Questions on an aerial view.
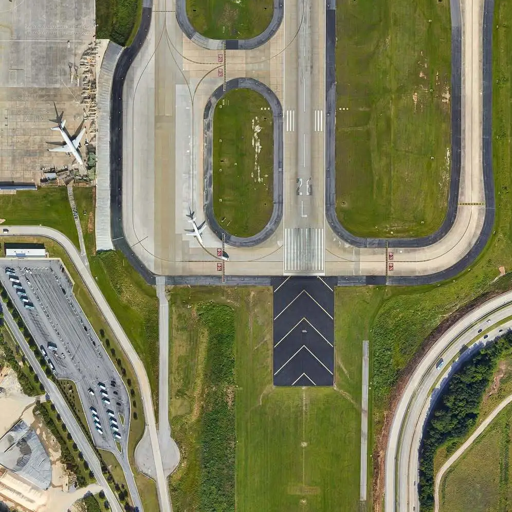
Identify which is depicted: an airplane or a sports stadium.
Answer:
airplane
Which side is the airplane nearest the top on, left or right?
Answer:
left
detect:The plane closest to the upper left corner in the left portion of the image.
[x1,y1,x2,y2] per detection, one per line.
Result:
[49,121,87,164]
